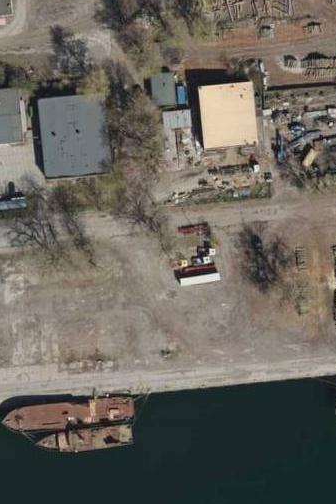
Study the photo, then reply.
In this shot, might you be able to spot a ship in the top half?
No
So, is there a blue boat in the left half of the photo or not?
No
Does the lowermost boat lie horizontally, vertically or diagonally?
horizontally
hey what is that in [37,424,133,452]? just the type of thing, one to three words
boat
